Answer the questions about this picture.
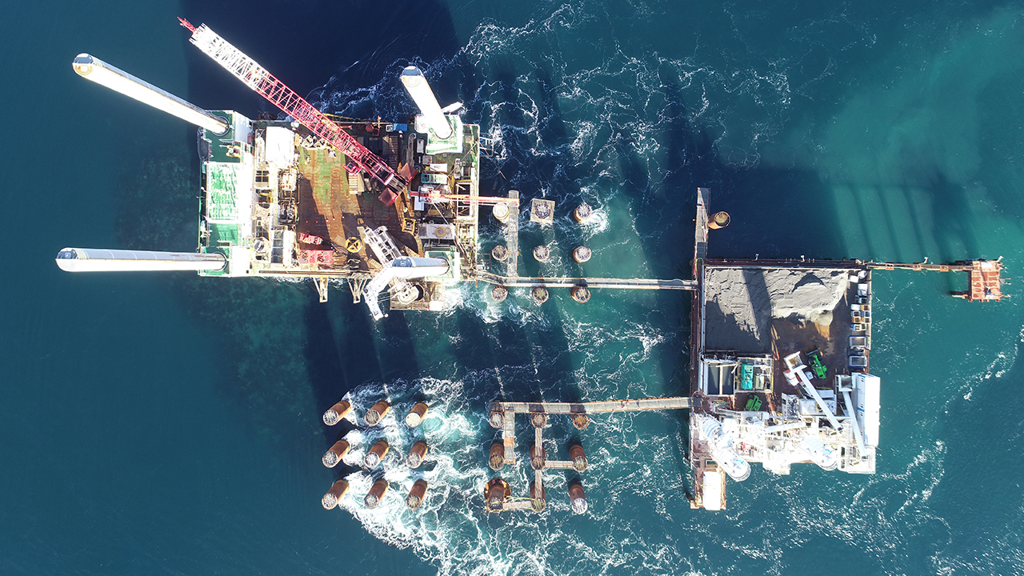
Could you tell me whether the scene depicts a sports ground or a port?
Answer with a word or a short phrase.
port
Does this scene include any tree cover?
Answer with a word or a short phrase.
No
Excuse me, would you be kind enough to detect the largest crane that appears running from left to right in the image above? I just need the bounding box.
[408,185,524,224]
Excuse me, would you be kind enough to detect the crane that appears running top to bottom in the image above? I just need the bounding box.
[361,221,401,321]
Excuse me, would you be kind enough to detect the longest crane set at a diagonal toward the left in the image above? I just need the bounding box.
[178,16,424,212]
